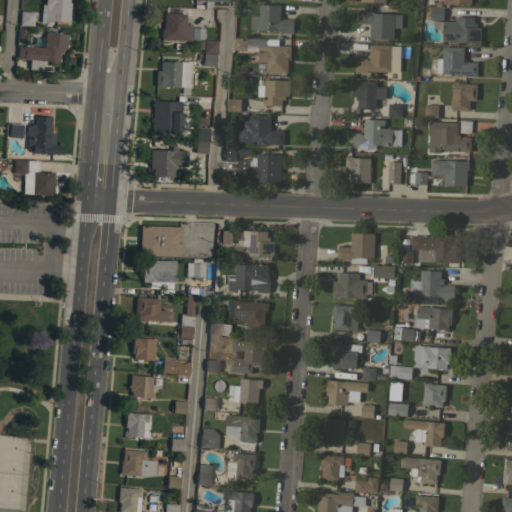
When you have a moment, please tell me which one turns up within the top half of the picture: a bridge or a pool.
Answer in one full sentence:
You can see a pool within the top half of the picture.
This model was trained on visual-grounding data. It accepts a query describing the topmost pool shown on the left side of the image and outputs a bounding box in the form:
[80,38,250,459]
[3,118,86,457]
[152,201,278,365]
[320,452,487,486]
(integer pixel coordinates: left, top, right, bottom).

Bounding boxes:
[10,138,25,156]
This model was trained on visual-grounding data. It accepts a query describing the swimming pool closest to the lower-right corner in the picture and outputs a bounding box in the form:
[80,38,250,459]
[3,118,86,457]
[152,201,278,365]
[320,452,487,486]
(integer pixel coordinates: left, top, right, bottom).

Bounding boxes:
[383,496,401,512]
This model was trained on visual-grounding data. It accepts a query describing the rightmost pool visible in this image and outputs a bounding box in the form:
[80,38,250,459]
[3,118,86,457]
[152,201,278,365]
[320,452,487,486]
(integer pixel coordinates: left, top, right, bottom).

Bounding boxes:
[425,22,442,42]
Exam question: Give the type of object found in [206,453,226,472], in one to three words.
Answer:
swimming pool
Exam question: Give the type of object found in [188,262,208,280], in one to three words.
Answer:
building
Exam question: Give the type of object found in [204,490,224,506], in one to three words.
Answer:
swimming pool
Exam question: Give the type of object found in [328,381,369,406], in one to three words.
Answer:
house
